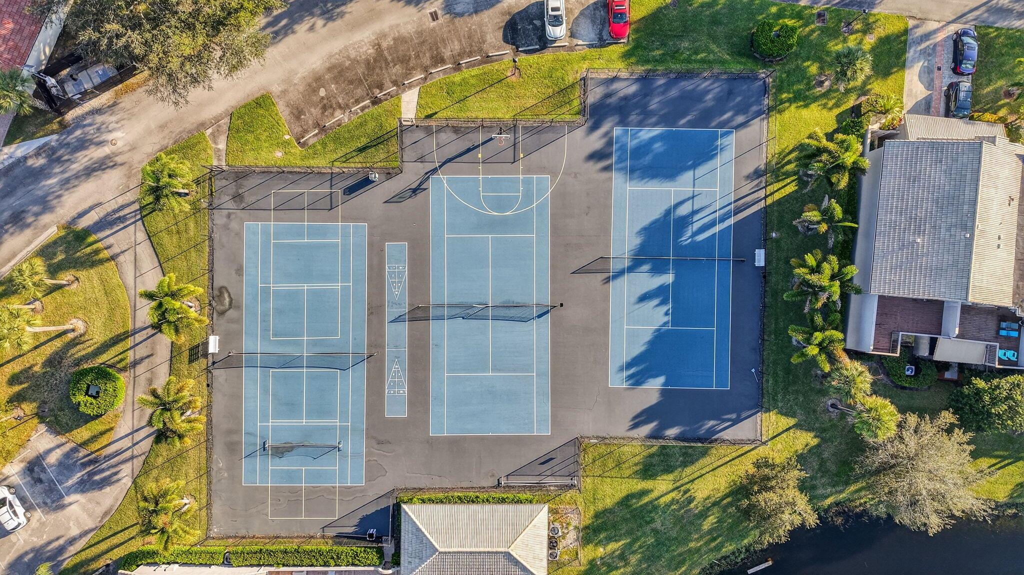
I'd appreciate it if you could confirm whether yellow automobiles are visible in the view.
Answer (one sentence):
No, there appears to be no yellow automobile in this shot.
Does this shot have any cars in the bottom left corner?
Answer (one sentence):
Yes, a car appears in the bottom left corner.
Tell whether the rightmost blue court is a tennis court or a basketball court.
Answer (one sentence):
What you see as the rightmost blue court is a tennis court.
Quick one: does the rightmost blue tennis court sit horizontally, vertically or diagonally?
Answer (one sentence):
The rightmost blue tennis court is laid out vertically.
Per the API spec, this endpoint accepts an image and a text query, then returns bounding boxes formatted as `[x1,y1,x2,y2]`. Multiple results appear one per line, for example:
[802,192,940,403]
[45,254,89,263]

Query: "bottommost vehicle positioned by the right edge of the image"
[947,76,976,119]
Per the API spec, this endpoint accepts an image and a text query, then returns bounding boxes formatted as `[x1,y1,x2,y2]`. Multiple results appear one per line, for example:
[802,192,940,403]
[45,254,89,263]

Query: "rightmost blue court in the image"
[609,128,735,389]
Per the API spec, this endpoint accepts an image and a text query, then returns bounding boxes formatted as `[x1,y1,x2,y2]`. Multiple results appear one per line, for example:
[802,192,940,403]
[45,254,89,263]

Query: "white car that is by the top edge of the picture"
[543,0,568,40]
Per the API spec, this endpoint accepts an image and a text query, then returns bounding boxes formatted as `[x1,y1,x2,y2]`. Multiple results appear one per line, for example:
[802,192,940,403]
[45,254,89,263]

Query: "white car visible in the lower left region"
[0,485,30,535]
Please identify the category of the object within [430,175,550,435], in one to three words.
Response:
tennis court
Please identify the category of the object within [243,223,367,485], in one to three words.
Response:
tennis court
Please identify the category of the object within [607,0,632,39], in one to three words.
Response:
car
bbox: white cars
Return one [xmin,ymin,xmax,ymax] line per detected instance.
[543,0,568,40]
[0,485,30,535]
